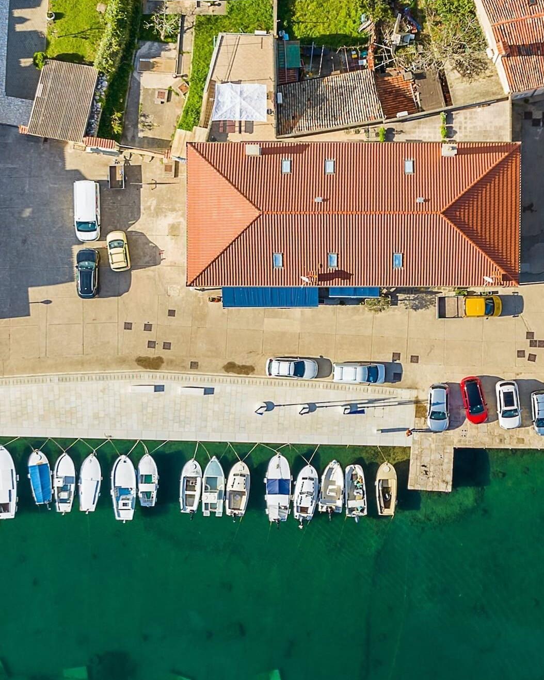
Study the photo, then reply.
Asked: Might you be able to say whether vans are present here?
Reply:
Yes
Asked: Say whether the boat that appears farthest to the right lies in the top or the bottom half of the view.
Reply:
bottom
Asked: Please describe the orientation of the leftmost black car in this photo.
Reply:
from top to bottom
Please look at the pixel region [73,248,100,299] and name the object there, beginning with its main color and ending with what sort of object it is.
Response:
black car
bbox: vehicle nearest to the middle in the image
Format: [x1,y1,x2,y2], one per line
[266,356,318,381]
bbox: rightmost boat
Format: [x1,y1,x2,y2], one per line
[374,462,398,515]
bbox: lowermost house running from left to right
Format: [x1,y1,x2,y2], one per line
[185,140,522,309]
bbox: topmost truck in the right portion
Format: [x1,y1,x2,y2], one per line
[437,295,501,320]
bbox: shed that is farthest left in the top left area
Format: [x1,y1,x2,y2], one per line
[29,60,101,143]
